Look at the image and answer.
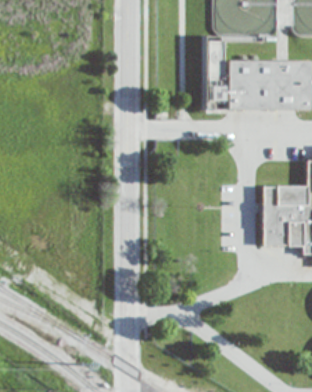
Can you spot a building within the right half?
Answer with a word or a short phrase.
Yes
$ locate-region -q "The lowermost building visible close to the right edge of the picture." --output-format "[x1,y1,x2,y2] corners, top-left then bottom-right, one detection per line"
[262,160,312,267]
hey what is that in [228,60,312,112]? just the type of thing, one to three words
building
